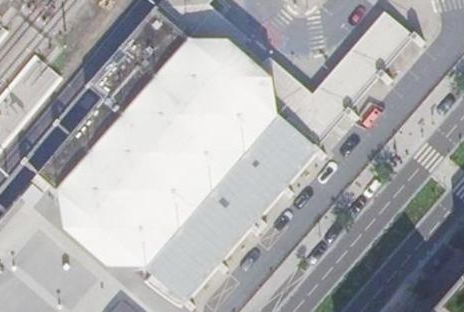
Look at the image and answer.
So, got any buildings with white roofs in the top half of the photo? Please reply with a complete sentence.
Yes, a building with a white roof can be seen in the top half of the photo.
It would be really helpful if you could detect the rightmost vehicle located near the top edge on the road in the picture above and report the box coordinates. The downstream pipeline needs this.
[347,5,366,25]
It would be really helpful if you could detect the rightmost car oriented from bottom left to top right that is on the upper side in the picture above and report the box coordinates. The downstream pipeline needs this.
[436,93,456,115]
